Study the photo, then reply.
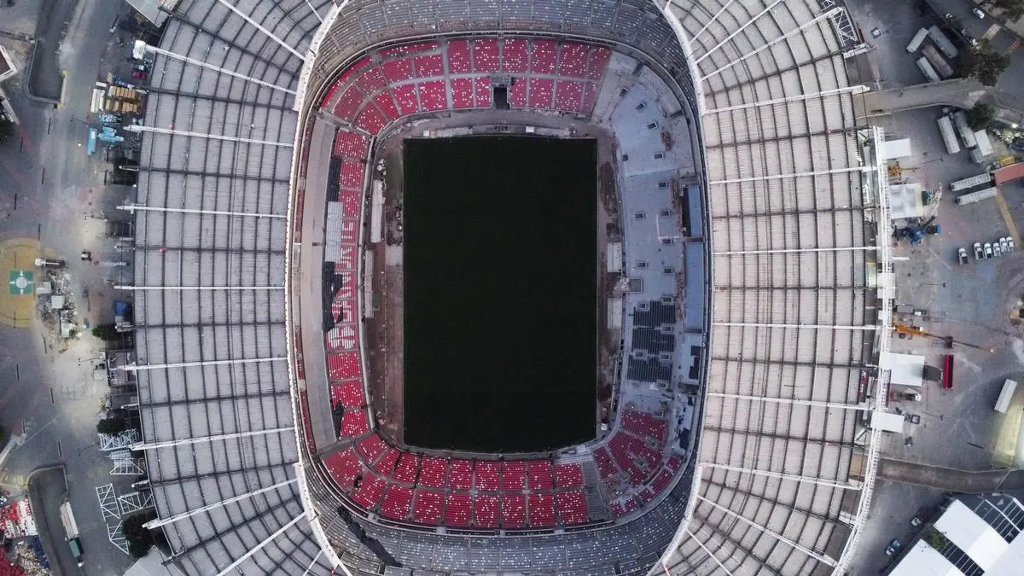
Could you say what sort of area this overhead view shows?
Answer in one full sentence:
It's a sports ground.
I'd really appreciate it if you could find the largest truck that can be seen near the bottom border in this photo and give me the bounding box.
[60,500,86,567]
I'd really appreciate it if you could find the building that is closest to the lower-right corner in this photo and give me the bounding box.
[884,486,1024,576]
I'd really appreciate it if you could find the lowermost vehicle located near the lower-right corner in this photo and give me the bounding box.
[884,539,899,555]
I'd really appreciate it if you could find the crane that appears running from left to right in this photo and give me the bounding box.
[892,319,993,351]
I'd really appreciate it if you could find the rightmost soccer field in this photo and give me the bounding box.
[402,133,598,455]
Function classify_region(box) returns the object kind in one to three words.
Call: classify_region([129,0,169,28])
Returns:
building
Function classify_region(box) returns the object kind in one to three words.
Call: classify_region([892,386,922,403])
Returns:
vehicle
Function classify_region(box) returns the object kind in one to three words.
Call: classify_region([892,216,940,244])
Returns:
truck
